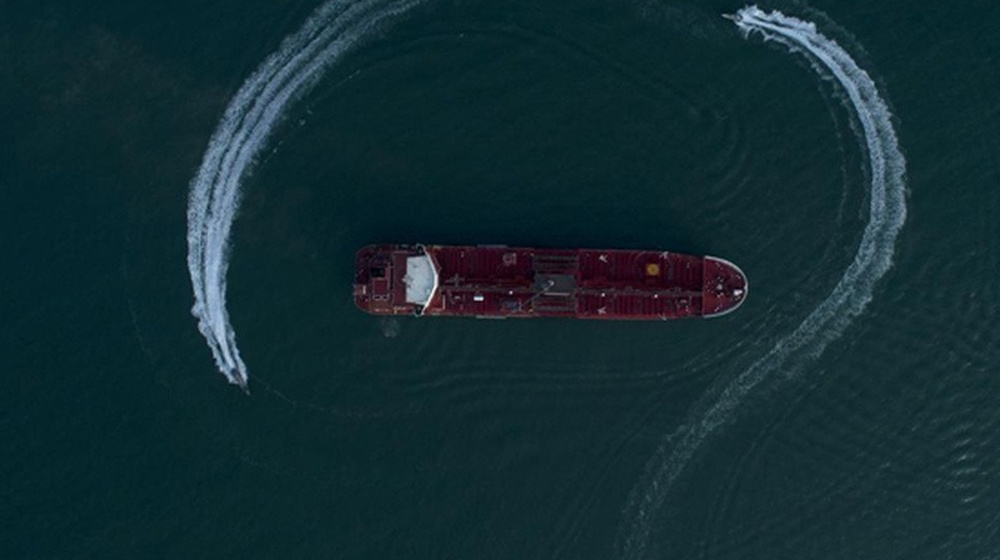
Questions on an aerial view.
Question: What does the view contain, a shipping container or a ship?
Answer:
ship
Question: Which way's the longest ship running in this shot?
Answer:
from side to side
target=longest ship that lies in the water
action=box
[354,242,749,321]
